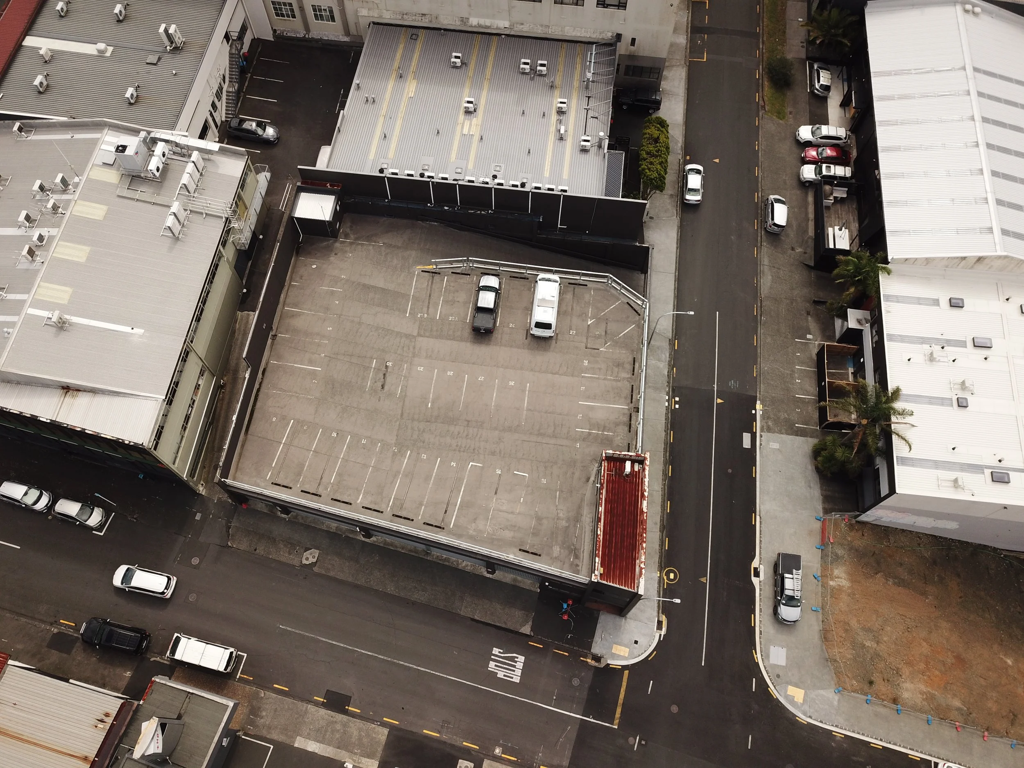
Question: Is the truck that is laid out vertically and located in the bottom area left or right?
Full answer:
The truck that is laid out vertically and located in the bottom area appears in the right half of the scene.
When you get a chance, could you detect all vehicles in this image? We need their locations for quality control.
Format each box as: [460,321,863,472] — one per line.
[472,275,502,335]
[531,274,563,339]
[796,123,849,148]
[809,62,833,101]
[937,757,976,768]
[46,498,111,531]
[225,115,282,145]
[799,161,853,187]
[78,614,154,656]
[0,476,57,511]
[112,563,180,599]
[764,196,790,237]
[801,144,852,165]
[682,164,707,208]
[617,86,664,113]
[775,552,808,624]
[167,629,240,672]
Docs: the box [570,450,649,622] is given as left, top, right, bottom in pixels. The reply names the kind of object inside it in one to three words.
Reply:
building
